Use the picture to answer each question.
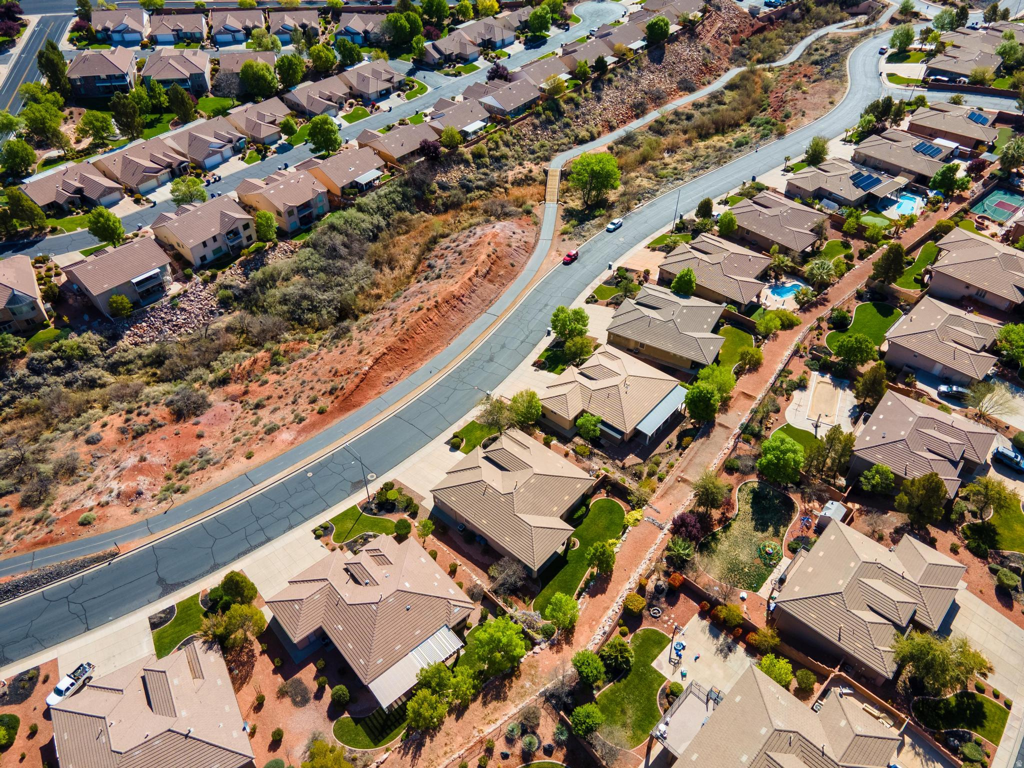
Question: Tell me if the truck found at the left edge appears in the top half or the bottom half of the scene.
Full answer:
You can find the truck found at the left edge in the bottom half.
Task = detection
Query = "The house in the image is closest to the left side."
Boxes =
[0,255,48,337]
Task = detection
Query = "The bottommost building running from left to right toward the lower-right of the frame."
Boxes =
[681,663,909,768]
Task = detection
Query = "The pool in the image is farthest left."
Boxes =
[770,283,801,298]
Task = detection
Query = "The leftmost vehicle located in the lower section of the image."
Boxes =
[44,656,102,705]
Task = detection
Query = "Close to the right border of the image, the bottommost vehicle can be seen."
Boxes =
[992,444,1024,472]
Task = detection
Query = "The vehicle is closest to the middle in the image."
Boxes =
[560,247,581,264]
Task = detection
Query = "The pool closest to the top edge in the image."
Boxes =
[896,195,916,214]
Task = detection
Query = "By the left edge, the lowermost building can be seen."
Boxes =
[49,639,256,768]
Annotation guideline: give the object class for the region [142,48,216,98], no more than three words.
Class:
house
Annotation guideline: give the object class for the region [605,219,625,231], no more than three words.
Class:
vehicle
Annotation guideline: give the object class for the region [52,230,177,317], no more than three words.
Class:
house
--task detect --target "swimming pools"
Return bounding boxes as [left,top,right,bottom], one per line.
[770,283,801,298]
[896,195,916,214]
